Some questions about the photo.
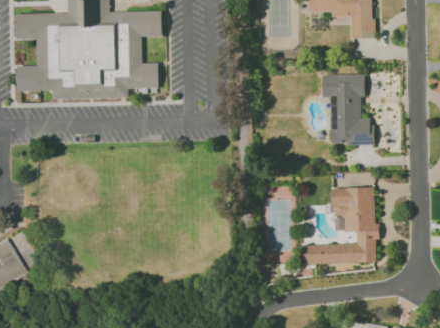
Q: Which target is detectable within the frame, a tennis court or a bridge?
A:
tennis court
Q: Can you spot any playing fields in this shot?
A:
Yes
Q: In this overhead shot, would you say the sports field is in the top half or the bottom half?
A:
bottom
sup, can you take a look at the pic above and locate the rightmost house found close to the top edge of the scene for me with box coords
[309,0,376,38]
